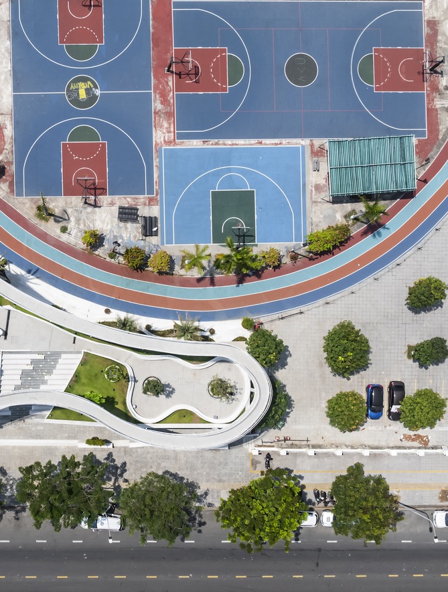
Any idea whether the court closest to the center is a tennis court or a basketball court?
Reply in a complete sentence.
The court closest to the center appears to be a basketball court.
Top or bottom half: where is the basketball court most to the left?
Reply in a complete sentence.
The basketball court most to the left sits in the top half of the picture.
